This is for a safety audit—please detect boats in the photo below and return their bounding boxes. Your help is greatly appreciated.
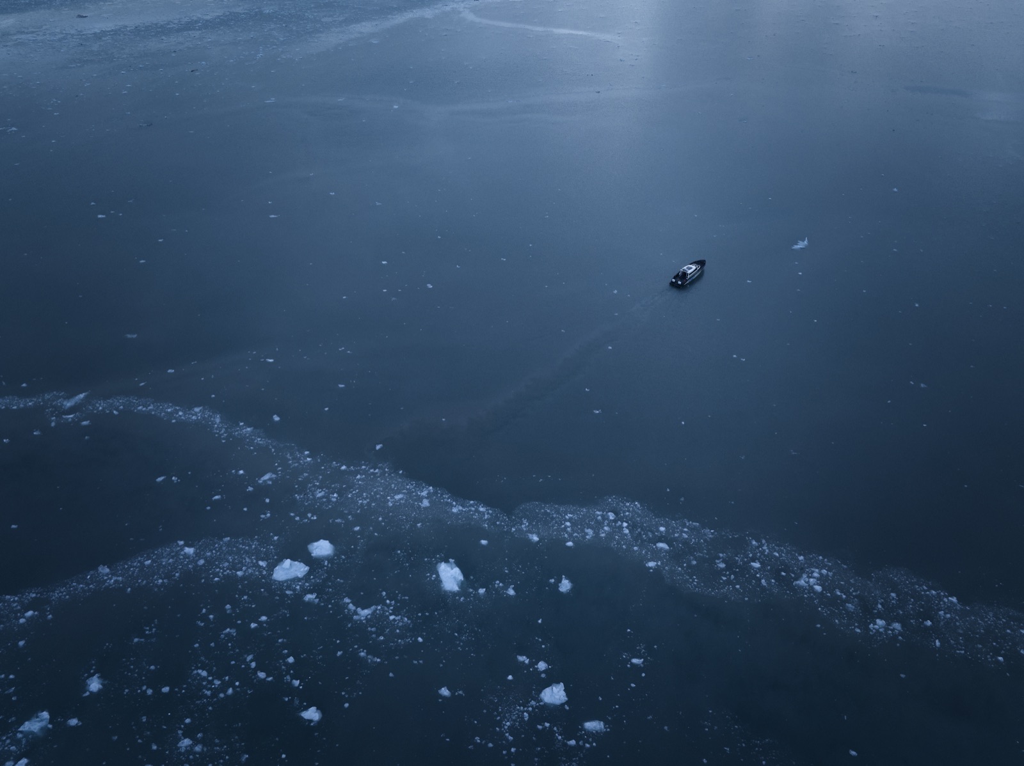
[670,260,707,289]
